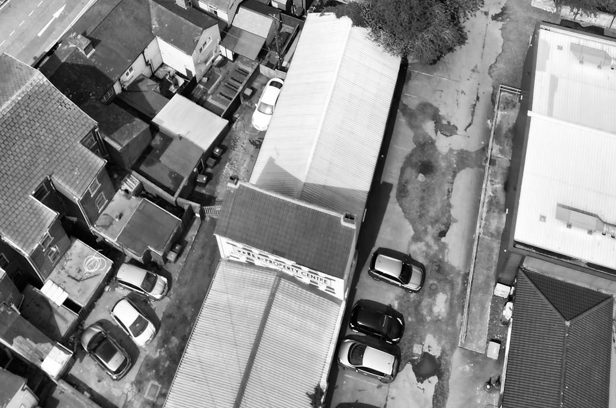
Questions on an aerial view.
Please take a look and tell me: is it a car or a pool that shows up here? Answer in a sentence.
The image shows a car.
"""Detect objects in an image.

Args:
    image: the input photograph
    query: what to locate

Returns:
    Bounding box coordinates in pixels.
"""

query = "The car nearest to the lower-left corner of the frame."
[76,324,137,386]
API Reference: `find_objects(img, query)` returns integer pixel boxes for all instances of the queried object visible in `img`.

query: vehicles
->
[113,261,172,303]
[336,341,399,382]
[249,78,284,132]
[76,324,137,386]
[370,258,424,292]
[107,294,159,349]
[348,304,405,342]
